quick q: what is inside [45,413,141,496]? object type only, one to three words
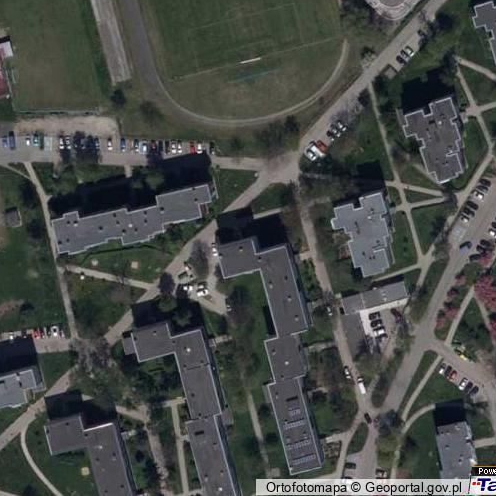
building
